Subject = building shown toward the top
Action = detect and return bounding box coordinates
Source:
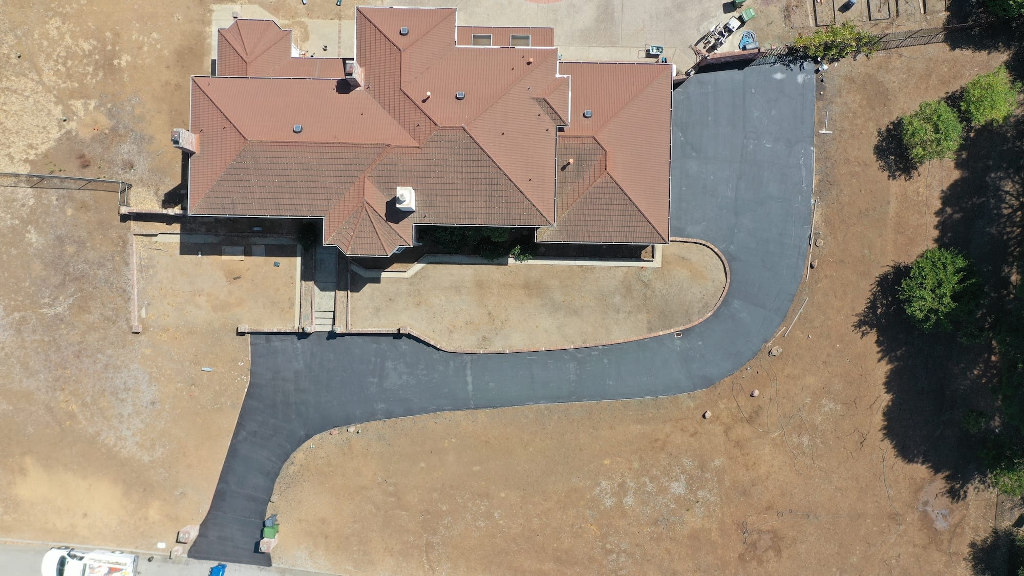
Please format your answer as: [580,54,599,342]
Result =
[169,5,672,257]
